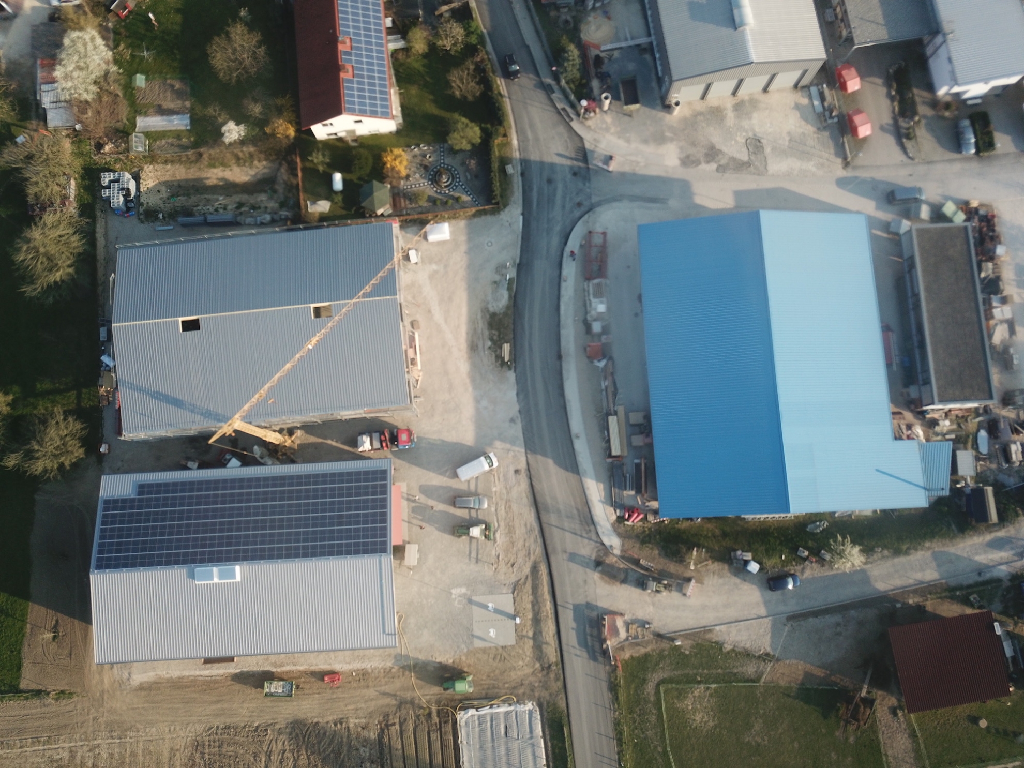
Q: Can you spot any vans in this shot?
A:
Yes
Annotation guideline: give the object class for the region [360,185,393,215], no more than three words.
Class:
gazebo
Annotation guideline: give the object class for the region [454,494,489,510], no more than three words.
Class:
car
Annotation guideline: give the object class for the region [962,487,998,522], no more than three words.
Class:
shed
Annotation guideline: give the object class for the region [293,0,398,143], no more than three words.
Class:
house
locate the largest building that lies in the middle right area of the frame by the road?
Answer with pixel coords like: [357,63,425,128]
[637,210,926,518]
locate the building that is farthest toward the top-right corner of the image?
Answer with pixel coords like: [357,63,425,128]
[916,0,1024,102]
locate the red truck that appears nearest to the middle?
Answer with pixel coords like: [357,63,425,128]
[355,427,415,451]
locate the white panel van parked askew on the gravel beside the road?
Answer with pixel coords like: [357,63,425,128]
[453,452,498,482]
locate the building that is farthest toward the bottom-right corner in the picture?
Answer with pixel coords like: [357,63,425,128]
[887,610,1010,713]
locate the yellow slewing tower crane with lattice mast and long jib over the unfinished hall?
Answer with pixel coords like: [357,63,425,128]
[208,226,436,465]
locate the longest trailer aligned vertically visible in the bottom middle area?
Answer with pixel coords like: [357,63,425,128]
[606,613,628,668]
